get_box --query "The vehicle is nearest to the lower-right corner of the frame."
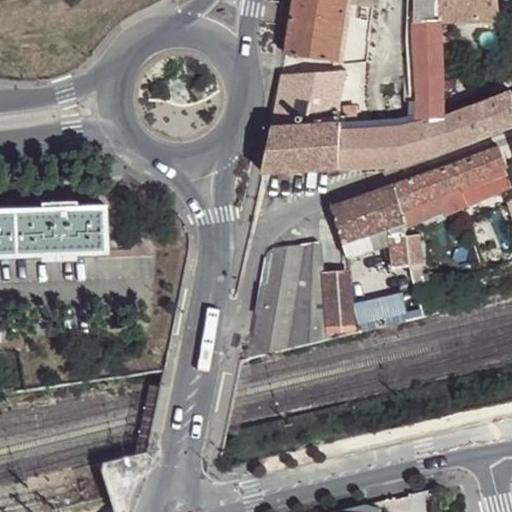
[424,456,448,468]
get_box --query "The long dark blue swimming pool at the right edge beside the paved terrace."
[491,212,512,247]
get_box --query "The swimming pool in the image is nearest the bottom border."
[452,247,470,263]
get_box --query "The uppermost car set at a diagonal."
[152,158,176,180]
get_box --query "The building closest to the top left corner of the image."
[0,200,110,262]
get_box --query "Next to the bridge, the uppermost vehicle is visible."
[196,306,220,372]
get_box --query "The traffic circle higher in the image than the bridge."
[96,12,262,180]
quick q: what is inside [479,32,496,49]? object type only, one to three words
swimming pool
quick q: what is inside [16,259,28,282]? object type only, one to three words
vehicle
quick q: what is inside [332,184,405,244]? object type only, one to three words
house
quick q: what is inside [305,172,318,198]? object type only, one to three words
vehicle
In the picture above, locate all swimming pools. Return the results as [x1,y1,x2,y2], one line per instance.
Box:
[491,212,512,247]
[452,247,470,263]
[479,32,496,49]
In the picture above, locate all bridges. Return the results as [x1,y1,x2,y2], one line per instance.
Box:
[148,361,242,454]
